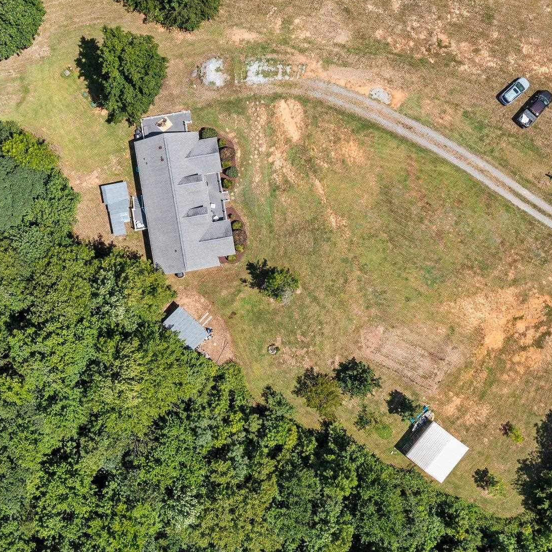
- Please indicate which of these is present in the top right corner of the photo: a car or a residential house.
car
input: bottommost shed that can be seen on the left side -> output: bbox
[164,307,209,350]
